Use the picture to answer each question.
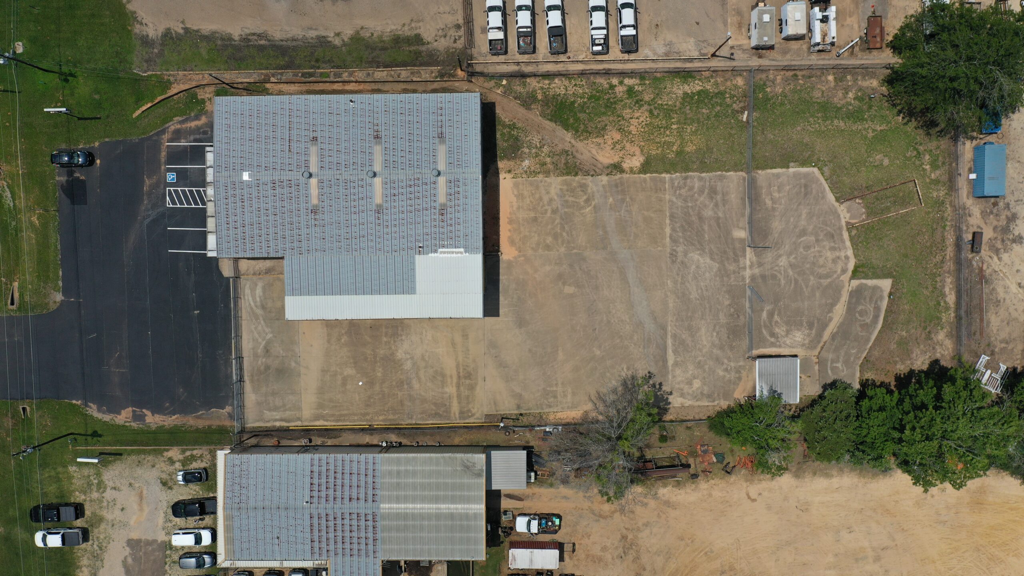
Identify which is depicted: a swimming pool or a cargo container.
cargo container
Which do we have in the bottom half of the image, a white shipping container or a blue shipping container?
white shipping container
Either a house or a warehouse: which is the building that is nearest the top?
warehouse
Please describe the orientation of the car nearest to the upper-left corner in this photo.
horizontally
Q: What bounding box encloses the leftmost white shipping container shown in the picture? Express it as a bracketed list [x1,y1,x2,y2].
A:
[509,541,559,569]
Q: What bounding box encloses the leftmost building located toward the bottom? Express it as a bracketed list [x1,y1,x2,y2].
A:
[217,446,486,576]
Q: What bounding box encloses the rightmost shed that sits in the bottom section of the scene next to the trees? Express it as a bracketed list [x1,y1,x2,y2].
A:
[749,356,800,403]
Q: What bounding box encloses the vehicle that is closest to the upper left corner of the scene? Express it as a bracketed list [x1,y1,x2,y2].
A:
[47,148,89,168]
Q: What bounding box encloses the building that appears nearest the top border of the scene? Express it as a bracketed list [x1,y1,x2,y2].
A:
[214,92,485,321]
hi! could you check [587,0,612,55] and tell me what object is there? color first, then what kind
white truck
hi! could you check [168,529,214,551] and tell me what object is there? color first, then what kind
white car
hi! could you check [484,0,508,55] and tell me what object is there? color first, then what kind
white truck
